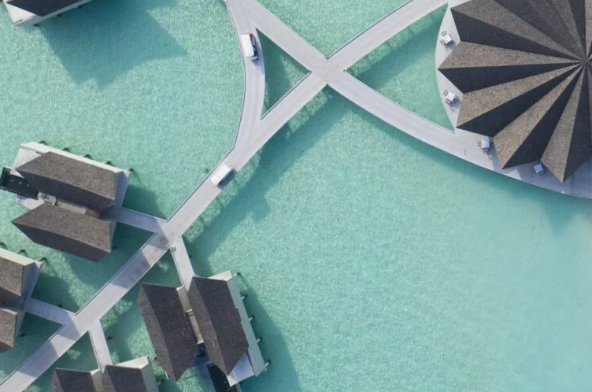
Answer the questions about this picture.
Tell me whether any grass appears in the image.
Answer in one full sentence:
No, no grass is visible.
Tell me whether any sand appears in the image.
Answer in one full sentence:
Yes, there is sand in the image.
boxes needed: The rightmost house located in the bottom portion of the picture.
[138,263,275,392]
